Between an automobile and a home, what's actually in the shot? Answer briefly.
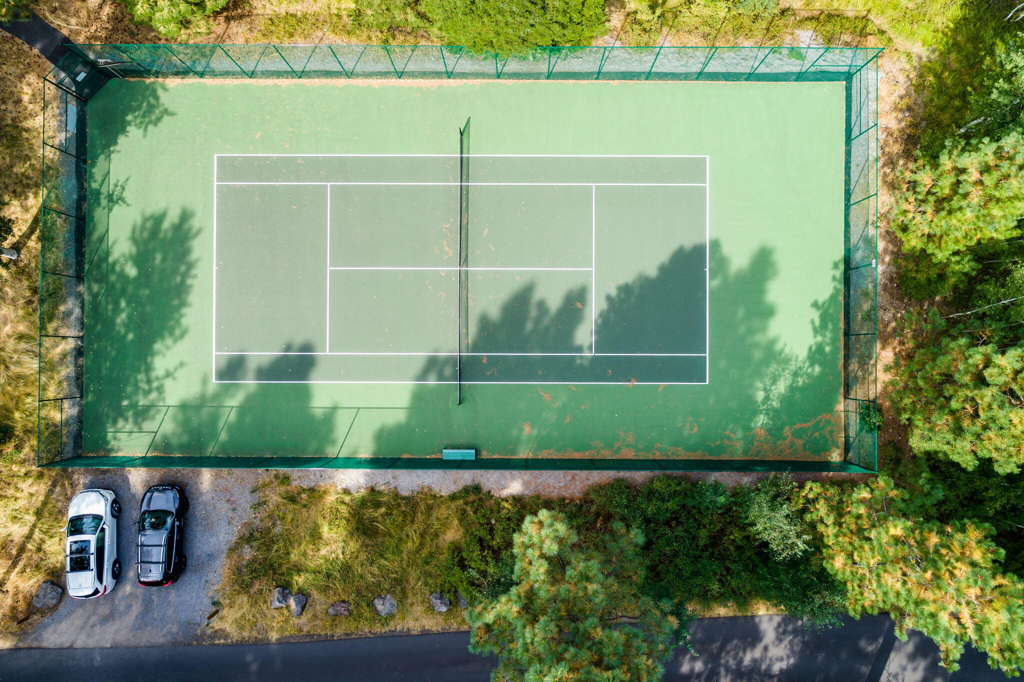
automobile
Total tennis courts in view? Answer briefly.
1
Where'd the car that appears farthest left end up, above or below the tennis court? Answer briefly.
below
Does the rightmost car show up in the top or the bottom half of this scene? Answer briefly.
bottom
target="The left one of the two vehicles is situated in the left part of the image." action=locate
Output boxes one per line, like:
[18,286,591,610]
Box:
[66,490,123,597]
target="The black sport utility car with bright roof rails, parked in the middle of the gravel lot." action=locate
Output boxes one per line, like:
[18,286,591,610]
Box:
[135,484,191,587]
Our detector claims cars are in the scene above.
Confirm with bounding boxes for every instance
[135,484,191,587]
[66,490,123,597]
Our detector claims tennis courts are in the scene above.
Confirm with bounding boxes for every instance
[74,71,853,469]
